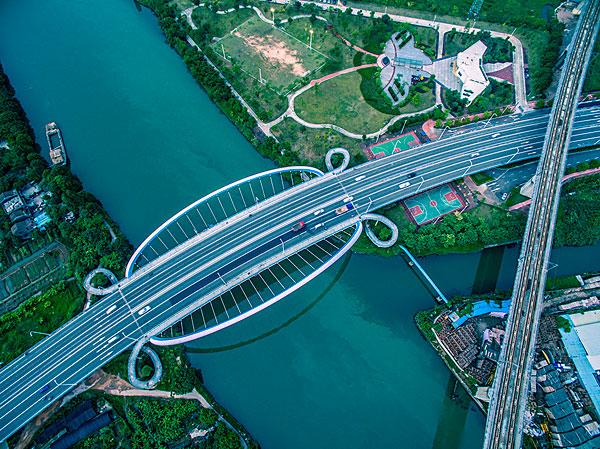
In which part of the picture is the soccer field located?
top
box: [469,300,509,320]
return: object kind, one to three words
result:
shed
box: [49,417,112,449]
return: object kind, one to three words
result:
shed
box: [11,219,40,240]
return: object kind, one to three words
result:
house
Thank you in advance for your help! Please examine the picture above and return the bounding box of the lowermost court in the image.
[398,182,469,226]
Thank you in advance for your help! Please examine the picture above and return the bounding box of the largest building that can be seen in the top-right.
[455,39,513,107]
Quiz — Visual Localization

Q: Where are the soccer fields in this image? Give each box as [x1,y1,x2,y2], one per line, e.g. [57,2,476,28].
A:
[212,15,329,94]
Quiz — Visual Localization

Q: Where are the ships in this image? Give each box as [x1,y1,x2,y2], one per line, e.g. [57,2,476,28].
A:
[44,124,65,170]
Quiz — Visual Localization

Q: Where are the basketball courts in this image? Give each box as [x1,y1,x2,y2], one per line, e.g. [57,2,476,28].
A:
[363,128,423,161]
[398,182,469,226]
